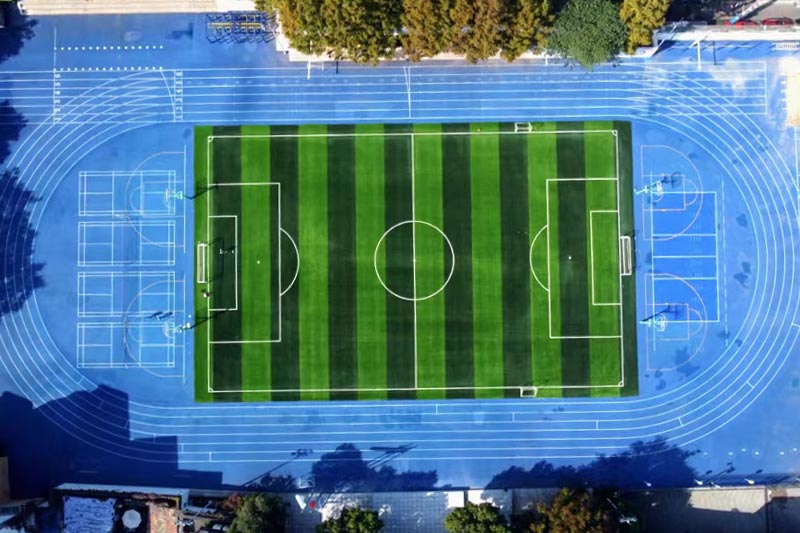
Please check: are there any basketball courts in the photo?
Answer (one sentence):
Yes, the frame does contain a basketball court.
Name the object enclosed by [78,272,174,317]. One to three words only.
sports court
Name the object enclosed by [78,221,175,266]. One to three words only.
sports court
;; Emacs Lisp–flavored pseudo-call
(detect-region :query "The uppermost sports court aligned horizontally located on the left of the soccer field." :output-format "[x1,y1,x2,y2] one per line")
[79,170,175,216]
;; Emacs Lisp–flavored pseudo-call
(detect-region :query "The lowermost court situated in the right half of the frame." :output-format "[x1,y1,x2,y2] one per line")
[645,274,706,370]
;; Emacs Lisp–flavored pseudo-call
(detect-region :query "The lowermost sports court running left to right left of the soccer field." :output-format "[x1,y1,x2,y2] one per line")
[77,323,174,368]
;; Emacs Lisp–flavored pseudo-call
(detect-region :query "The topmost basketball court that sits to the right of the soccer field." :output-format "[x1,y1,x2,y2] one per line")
[641,145,702,240]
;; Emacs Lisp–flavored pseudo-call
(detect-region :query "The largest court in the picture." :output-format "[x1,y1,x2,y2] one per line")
[650,172,727,350]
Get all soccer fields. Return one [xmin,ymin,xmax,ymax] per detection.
[195,120,638,402]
